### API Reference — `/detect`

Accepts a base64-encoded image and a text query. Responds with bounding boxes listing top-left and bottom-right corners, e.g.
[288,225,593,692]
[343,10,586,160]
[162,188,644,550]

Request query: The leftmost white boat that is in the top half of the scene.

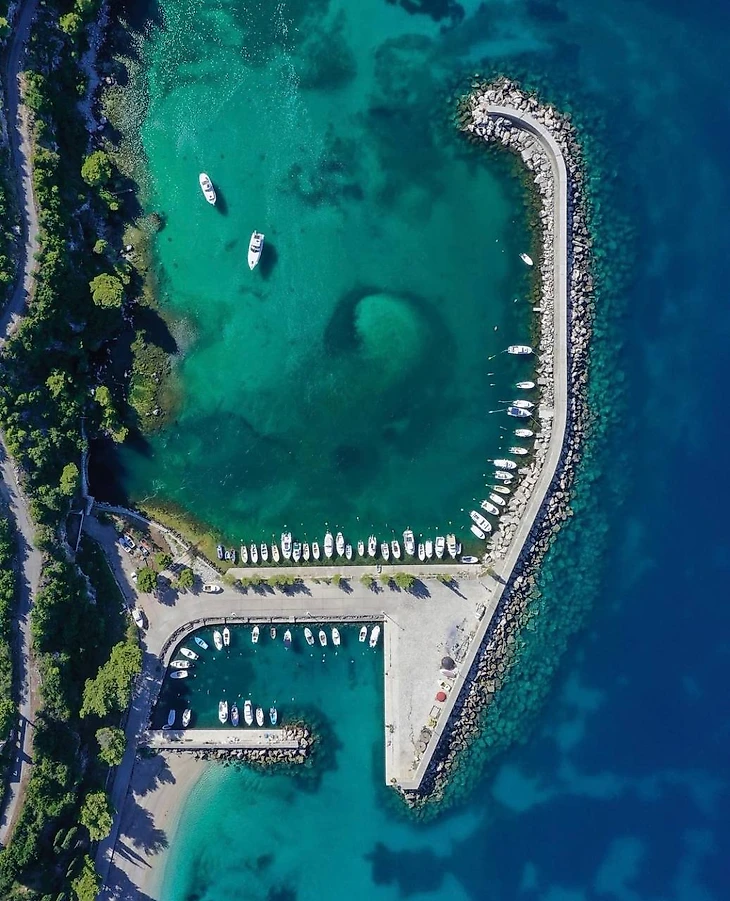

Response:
[197,170,215,203]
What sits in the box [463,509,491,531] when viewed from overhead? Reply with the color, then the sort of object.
white boat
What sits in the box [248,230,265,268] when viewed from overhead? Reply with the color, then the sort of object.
white boat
